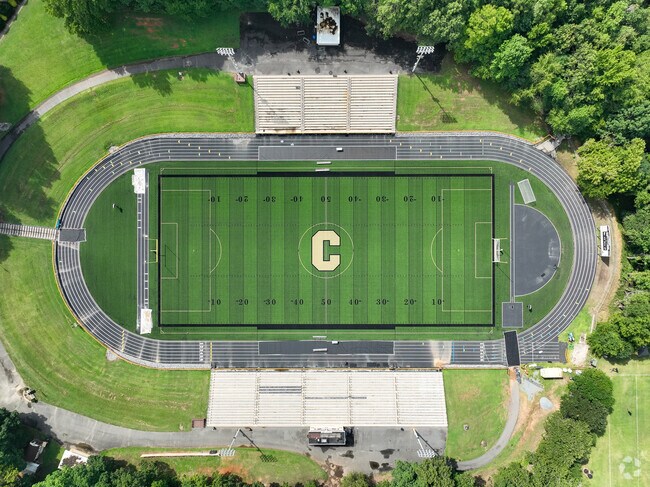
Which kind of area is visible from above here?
sports ground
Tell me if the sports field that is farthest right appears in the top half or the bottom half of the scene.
bottom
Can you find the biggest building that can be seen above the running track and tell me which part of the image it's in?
top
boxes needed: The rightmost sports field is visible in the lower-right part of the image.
[592,357,650,487]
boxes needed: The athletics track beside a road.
[55,132,597,368]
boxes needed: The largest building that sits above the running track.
[317,5,340,48]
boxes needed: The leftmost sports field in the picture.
[79,160,574,340]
